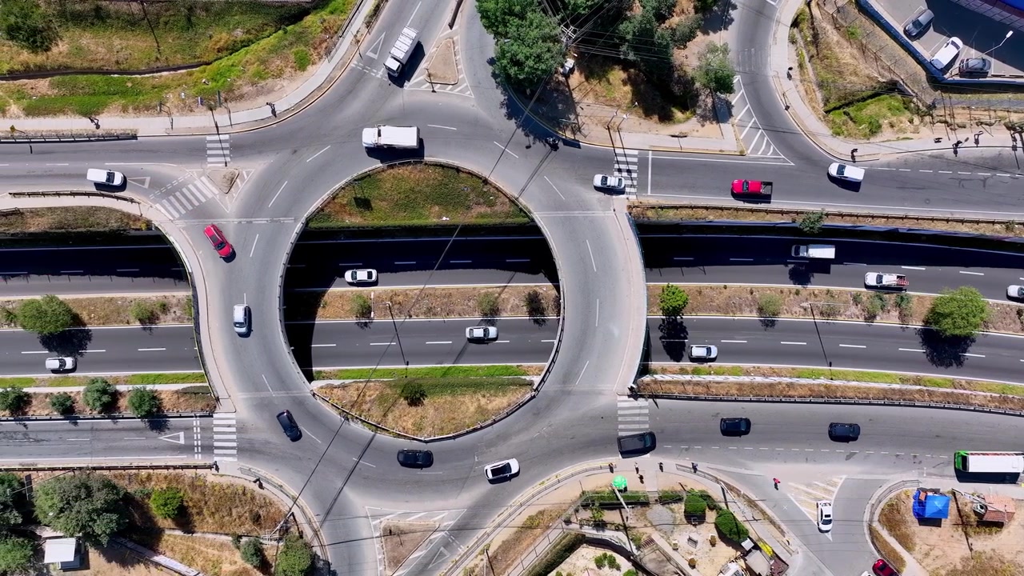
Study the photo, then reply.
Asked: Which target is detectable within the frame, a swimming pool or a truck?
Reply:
truck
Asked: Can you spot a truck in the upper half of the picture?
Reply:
Yes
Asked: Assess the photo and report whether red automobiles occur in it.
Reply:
Yes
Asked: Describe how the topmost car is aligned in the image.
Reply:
at an angle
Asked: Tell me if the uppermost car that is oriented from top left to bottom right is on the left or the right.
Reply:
left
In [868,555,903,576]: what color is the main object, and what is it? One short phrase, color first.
red car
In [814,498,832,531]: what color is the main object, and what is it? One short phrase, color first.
white car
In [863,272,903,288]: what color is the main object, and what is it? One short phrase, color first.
white vehicle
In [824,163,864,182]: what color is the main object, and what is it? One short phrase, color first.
white car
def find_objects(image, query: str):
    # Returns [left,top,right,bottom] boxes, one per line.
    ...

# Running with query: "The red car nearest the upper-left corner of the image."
[204,224,235,261]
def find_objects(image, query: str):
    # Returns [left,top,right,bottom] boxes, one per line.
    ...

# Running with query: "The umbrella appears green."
[612,475,627,490]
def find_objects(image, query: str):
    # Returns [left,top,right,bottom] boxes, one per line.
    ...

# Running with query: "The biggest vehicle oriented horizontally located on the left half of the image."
[365,127,422,151]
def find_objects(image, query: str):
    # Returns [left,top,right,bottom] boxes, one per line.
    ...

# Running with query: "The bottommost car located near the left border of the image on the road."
[47,357,80,372]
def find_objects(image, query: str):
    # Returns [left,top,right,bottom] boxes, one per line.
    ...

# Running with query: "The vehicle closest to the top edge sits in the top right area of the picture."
[898,8,935,39]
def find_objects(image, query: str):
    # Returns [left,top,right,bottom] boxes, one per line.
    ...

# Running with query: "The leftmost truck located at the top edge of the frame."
[384,24,423,88]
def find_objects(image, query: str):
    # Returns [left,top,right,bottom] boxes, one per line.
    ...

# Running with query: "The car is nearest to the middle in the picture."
[466,326,498,341]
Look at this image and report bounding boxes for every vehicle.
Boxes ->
[814,498,832,531]
[947,450,1024,474]
[485,459,520,479]
[47,357,80,372]
[923,37,959,76]
[718,418,749,434]
[616,432,655,452]
[863,272,903,288]
[825,424,858,440]
[466,326,498,341]
[787,243,836,261]
[384,24,423,88]
[730,180,771,197]
[687,345,716,360]
[714,559,751,576]
[234,305,251,334]
[545,140,559,147]
[898,8,935,39]
[365,127,422,151]
[953,58,988,76]
[398,449,433,466]
[204,224,235,261]
[824,163,864,182]
[277,408,302,441]
[868,555,903,576]
[347,269,378,284]
[593,175,625,191]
